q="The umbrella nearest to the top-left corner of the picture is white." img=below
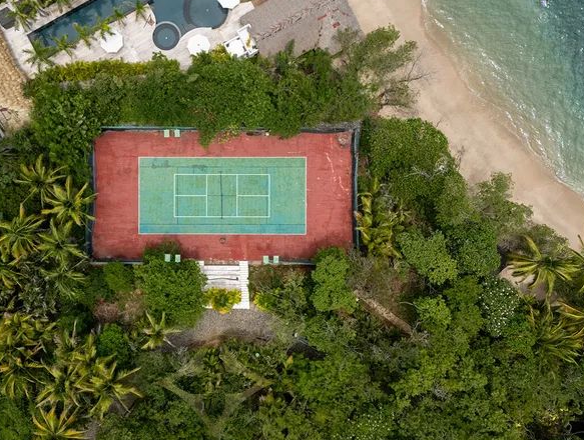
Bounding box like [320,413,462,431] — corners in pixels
[101,32,123,54]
